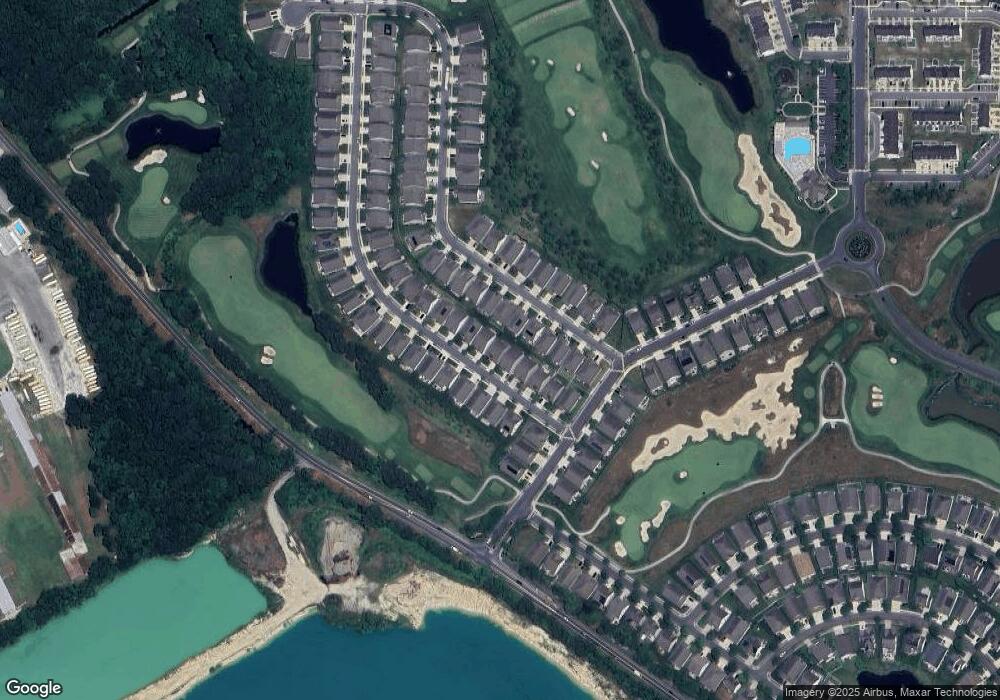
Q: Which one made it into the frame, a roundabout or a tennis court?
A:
roundabout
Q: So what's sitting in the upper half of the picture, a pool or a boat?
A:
pool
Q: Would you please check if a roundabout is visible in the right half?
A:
Yes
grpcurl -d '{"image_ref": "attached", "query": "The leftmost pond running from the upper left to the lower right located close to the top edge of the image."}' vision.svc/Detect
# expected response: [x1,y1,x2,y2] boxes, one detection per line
[643,0,755,114]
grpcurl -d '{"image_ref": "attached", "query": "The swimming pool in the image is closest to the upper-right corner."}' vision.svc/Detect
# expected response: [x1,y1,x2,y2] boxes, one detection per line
[774,122,815,183]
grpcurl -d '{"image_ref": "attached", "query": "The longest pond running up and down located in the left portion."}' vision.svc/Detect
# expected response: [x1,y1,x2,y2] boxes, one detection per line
[260,213,312,314]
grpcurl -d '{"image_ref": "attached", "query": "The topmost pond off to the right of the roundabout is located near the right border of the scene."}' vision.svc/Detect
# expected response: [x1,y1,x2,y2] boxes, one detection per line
[950,233,1000,354]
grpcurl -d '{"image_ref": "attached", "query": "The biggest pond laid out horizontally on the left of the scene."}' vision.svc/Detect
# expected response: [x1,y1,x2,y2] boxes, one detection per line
[126,114,222,160]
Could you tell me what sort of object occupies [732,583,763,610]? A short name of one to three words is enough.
house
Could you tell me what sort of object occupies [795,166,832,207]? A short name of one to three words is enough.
building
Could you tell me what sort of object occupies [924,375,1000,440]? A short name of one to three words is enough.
pond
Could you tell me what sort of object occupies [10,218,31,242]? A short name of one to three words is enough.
swimming pool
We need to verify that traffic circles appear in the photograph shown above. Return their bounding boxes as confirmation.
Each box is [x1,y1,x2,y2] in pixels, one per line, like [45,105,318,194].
[816,208,888,294]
